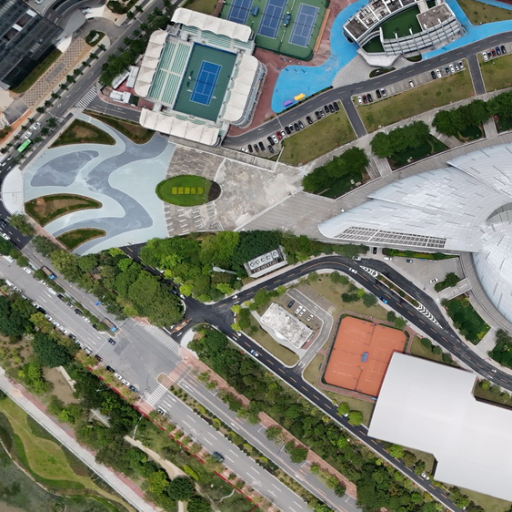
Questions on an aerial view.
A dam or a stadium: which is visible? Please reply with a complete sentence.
I can see a stadium in this picture.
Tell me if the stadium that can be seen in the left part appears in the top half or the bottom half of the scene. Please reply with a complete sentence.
You can find the stadium that can be seen in the left part in the top half.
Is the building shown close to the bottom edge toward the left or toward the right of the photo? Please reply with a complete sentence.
The building shown close to the bottom edge is on the right side of the image.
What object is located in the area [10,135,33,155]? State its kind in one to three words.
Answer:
vehicle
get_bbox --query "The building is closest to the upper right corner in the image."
[344,0,465,67]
